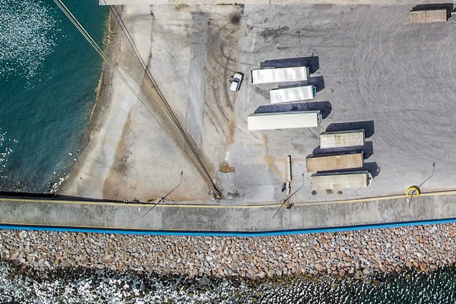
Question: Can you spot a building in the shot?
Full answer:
No, the photo shows no building.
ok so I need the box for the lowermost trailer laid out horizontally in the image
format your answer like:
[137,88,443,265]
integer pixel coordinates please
[311,168,372,190]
